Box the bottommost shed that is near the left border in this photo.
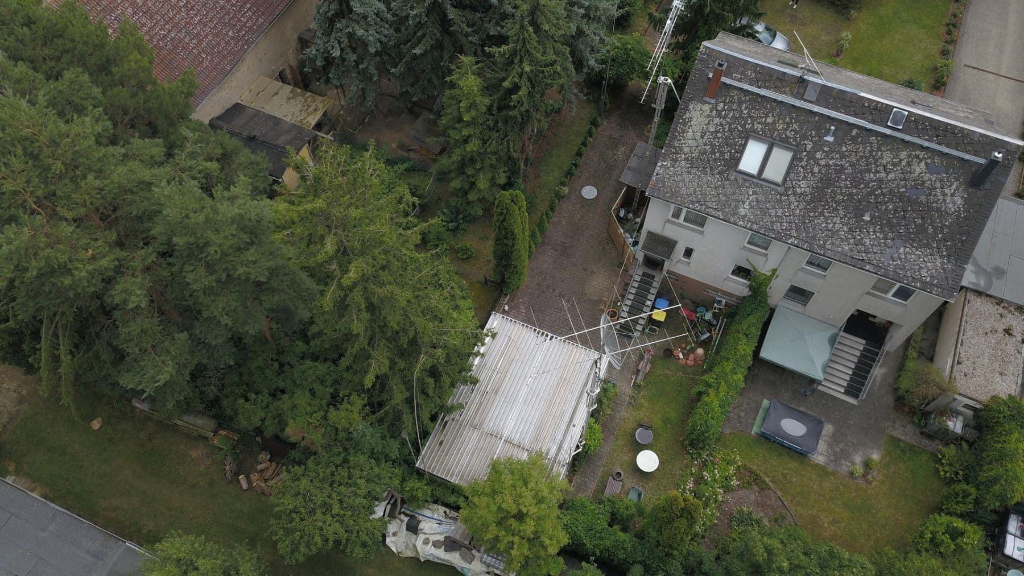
[0,478,180,576]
